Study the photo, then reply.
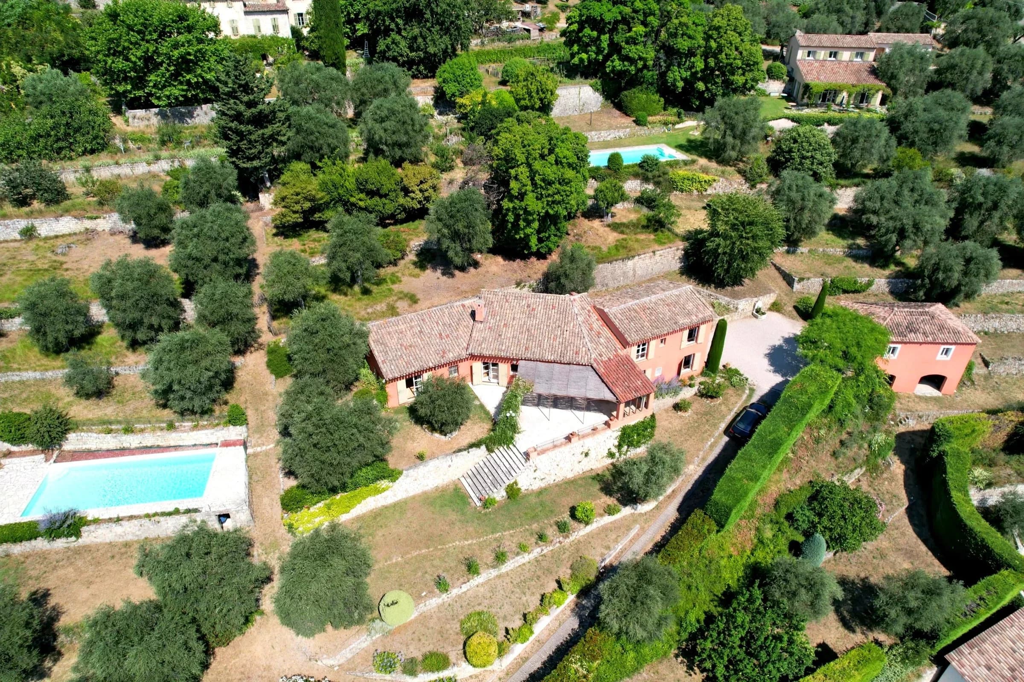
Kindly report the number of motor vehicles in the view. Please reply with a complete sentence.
Just 1 motor vehicle appears in this view.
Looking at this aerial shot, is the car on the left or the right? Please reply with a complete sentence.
The car is on the right side of the image.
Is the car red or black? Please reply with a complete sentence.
In this view, the car is black.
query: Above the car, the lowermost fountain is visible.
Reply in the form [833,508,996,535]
[749,301,771,323]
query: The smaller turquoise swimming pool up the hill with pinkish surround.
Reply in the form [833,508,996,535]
[571,143,686,174]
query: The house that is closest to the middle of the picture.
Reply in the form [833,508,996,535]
[363,277,713,421]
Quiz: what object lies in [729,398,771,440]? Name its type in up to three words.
car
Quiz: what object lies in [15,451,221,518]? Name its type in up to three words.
swimming pool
